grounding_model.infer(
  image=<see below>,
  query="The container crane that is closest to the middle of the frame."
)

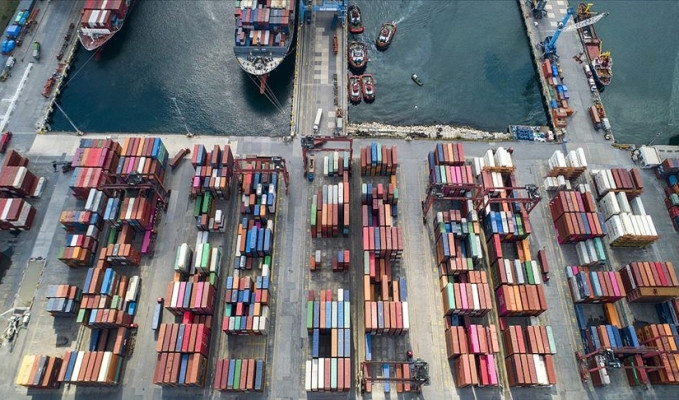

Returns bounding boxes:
[300,135,353,172]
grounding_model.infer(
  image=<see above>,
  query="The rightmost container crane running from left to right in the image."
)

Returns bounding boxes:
[577,344,671,381]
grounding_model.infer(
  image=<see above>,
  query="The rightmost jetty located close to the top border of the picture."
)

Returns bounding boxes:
[517,0,614,143]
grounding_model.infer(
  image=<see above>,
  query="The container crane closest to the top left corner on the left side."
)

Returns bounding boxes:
[95,170,168,207]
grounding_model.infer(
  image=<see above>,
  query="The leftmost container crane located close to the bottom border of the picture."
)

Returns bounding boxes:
[358,356,432,393]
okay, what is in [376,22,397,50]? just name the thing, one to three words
boat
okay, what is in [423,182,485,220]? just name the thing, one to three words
container crane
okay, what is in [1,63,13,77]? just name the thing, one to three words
vehicle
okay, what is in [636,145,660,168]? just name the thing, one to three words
shed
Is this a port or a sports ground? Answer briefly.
port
